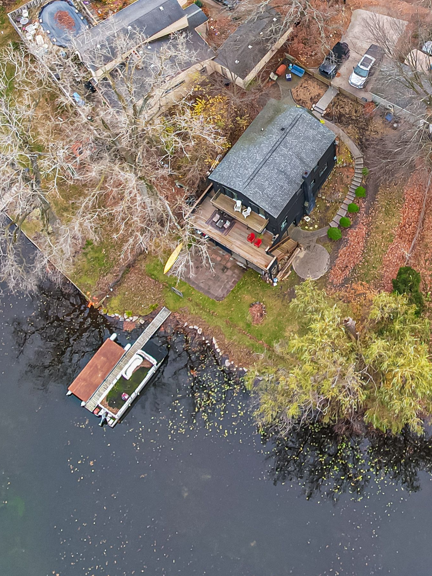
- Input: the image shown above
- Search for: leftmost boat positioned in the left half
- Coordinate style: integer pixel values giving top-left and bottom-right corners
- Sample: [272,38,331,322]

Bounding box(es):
[63,336,131,413]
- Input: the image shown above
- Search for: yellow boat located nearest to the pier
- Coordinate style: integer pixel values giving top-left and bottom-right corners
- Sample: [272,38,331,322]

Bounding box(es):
[164,242,182,274]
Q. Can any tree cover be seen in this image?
Yes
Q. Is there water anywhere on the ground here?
Yes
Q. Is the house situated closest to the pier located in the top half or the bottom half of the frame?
top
